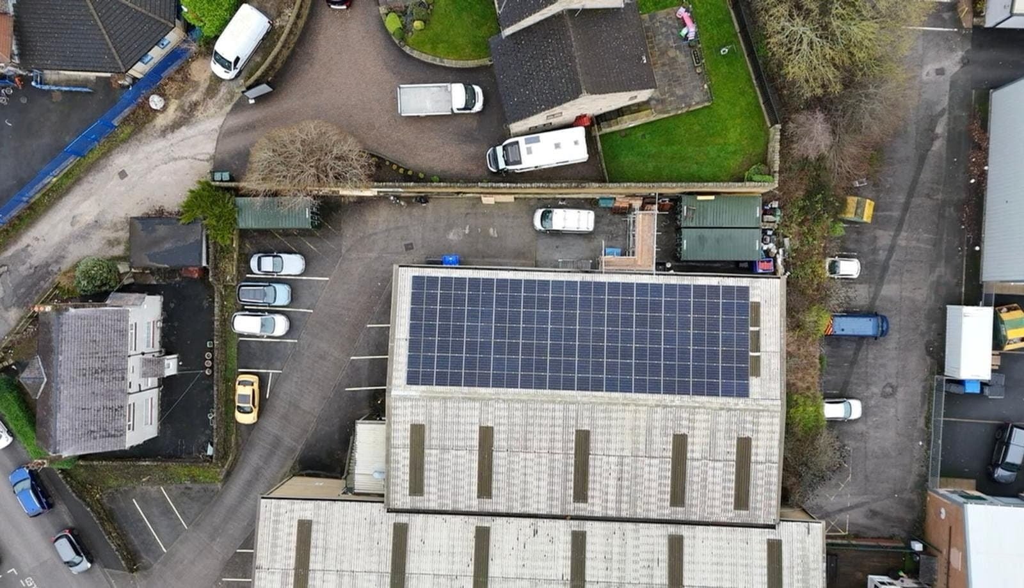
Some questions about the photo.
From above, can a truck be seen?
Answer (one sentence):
Yes, there's a truck down there.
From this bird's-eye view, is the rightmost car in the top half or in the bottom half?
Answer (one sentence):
You can find the rightmost car in the bottom half.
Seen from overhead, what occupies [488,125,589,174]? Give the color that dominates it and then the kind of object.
white van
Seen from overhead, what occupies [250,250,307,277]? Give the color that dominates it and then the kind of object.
white car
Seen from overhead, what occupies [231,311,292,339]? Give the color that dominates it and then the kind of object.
white car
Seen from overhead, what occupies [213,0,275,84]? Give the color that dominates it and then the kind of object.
white van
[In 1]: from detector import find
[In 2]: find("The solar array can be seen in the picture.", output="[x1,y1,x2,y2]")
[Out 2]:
[407,276,750,398]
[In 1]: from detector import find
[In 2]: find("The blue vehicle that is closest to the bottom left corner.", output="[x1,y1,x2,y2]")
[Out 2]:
[11,464,57,521]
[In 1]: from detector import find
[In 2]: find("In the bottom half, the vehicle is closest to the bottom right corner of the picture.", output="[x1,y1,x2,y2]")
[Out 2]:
[991,423,1024,482]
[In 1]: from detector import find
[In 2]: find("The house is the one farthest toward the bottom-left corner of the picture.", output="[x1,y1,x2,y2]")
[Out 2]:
[19,287,181,469]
